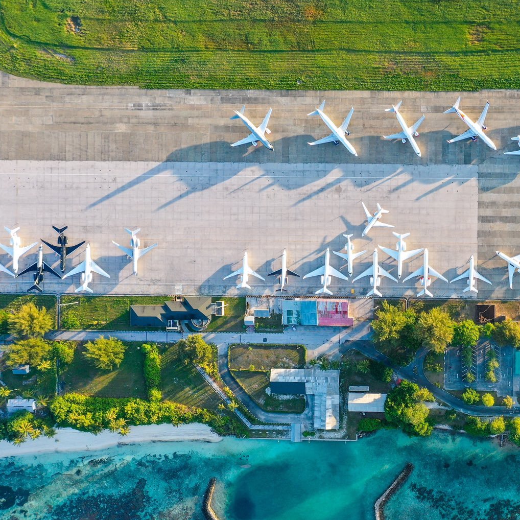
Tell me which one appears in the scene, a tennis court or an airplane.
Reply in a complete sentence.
Visible in the photo is an airplane.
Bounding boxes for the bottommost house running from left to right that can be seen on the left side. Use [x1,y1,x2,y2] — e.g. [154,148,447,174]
[6,398,37,413]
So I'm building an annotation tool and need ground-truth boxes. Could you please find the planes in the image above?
[269,250,300,291]
[404,249,448,296]
[229,102,274,150]
[446,98,497,150]
[17,245,63,292]
[304,248,350,296]
[377,232,423,278]
[0,227,38,273]
[362,201,395,236]
[112,228,158,275]
[352,249,398,296]
[497,251,520,288]
[334,235,367,277]
[225,251,266,289]
[63,244,111,291]
[309,102,358,156]
[452,255,493,293]
[384,102,425,156]
[39,226,85,272]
